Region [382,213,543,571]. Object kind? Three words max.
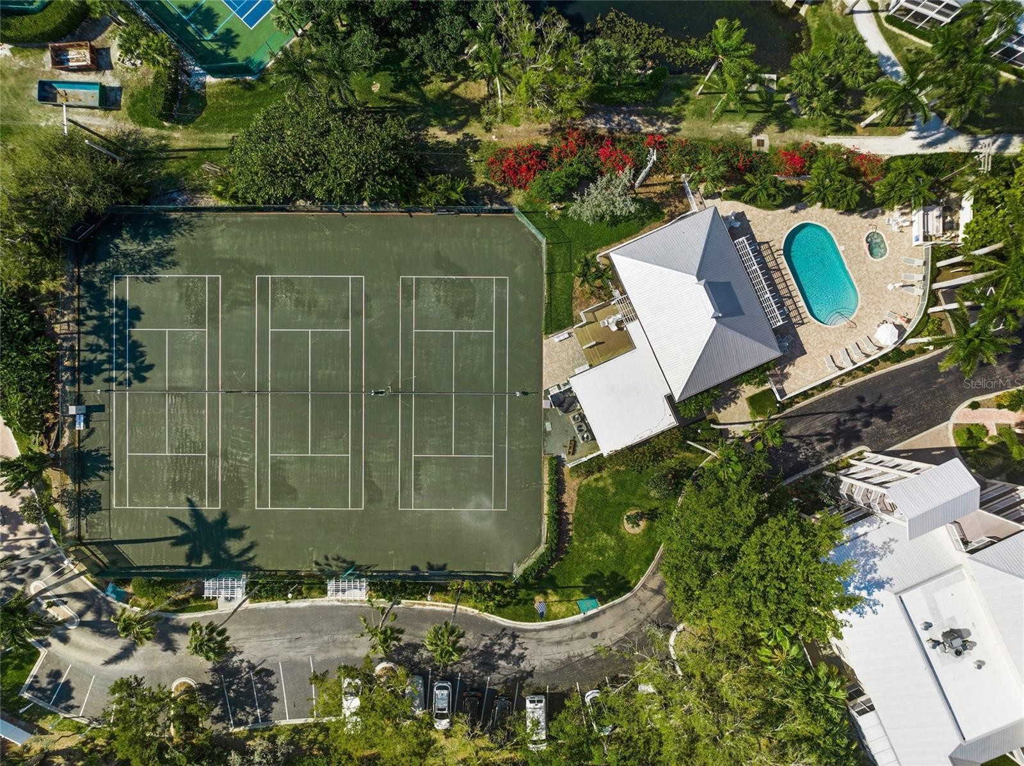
tennis court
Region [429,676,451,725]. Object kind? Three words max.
car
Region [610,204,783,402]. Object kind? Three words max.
building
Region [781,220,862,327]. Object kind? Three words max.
swimming pool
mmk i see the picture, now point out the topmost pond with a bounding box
[537,0,806,76]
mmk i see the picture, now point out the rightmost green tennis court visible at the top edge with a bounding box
[134,0,325,77]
